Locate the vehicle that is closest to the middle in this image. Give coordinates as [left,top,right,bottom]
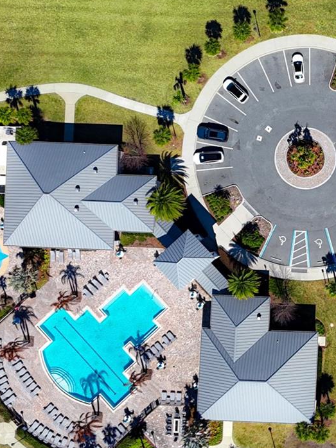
[196,150,225,164]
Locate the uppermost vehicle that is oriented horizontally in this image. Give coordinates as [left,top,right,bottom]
[197,126,230,142]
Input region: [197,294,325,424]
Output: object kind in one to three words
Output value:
building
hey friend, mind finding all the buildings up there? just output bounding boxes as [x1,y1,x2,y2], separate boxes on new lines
[153,228,226,290]
[197,294,325,424]
[3,141,159,250]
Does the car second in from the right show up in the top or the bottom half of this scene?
top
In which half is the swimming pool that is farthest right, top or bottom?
bottom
